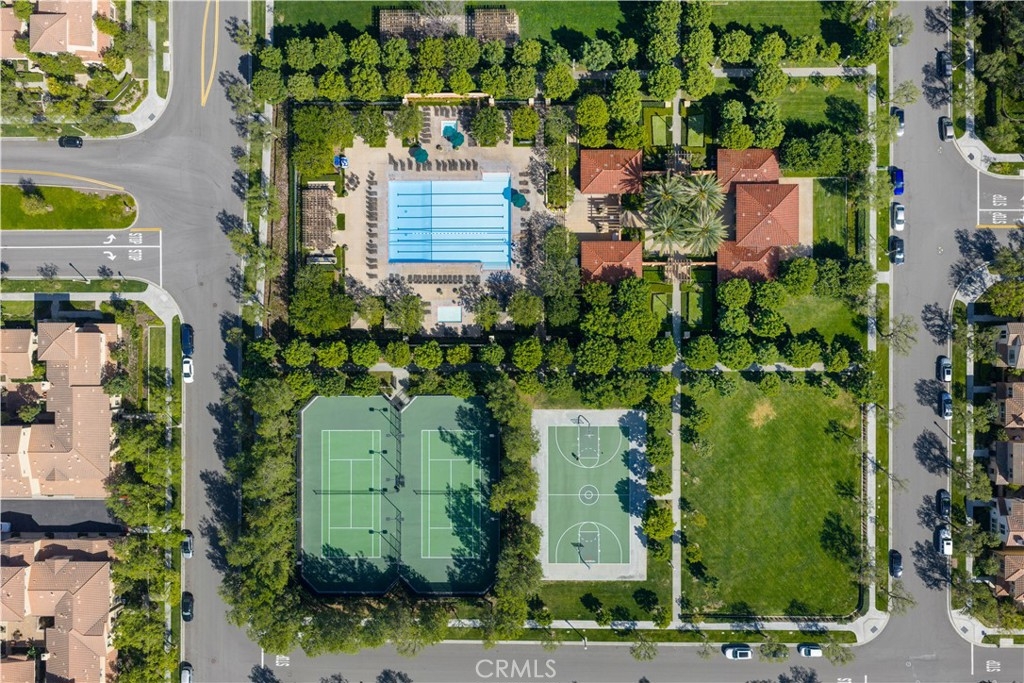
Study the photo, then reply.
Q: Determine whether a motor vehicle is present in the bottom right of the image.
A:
Yes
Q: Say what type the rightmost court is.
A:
basketball court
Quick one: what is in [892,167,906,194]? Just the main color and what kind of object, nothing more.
blue car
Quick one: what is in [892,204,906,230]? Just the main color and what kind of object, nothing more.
white car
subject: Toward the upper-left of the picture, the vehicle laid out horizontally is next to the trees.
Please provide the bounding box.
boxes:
[56,134,83,147]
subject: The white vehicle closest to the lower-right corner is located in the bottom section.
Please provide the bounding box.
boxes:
[938,526,954,558]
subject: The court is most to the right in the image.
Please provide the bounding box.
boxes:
[532,409,647,580]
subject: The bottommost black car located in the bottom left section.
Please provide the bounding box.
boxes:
[180,594,194,620]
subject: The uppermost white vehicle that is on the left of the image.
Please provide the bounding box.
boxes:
[180,358,194,383]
